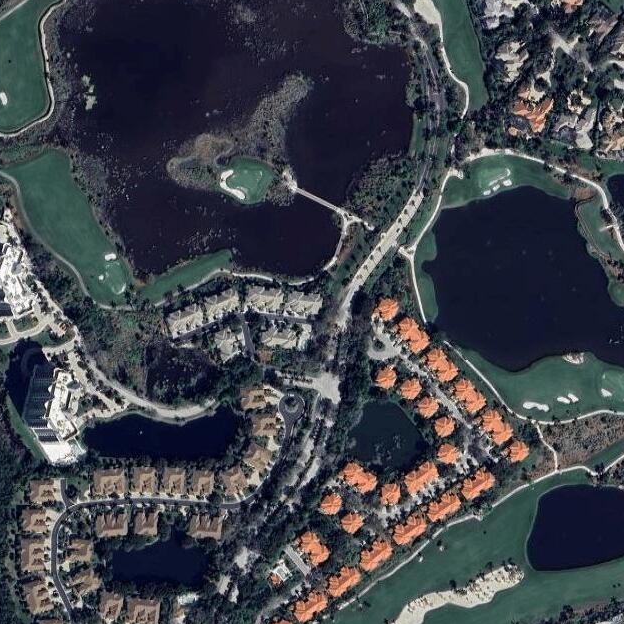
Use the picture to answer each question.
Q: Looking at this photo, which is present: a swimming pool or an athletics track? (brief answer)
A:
swimming pool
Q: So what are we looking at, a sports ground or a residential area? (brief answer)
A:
residential area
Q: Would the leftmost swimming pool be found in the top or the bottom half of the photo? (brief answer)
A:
bottom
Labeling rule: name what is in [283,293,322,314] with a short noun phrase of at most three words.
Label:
house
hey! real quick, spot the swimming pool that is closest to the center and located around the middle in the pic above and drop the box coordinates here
[298,328,312,350]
